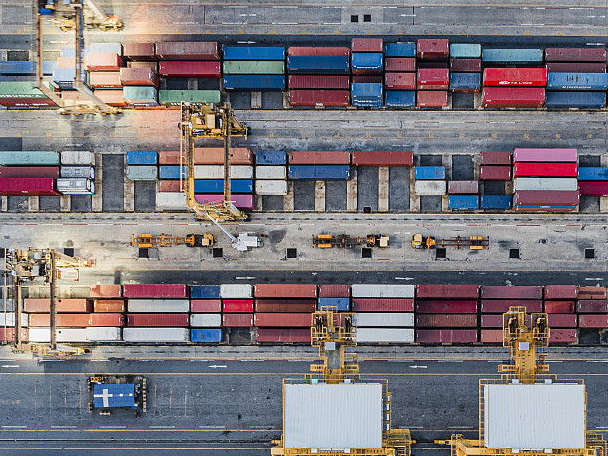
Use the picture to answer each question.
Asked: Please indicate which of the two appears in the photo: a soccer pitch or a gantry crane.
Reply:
gantry crane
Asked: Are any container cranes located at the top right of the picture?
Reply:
No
